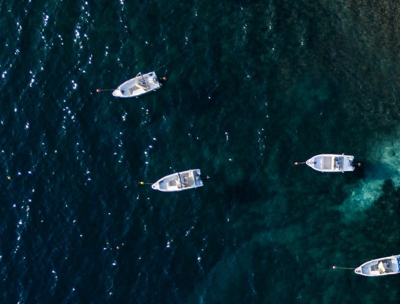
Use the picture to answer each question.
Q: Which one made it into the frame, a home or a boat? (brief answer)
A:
boat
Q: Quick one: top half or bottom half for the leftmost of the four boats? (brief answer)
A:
top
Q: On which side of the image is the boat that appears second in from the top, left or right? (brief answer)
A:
right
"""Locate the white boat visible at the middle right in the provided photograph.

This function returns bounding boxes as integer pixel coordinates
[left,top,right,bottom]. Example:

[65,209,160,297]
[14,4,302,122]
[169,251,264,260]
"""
[306,153,363,173]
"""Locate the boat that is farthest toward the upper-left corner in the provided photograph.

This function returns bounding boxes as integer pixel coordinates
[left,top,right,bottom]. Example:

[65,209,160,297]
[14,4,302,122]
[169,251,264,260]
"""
[112,71,166,97]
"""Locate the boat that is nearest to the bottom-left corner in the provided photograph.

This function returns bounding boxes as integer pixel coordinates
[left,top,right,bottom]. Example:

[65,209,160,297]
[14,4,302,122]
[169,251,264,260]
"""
[151,170,210,192]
